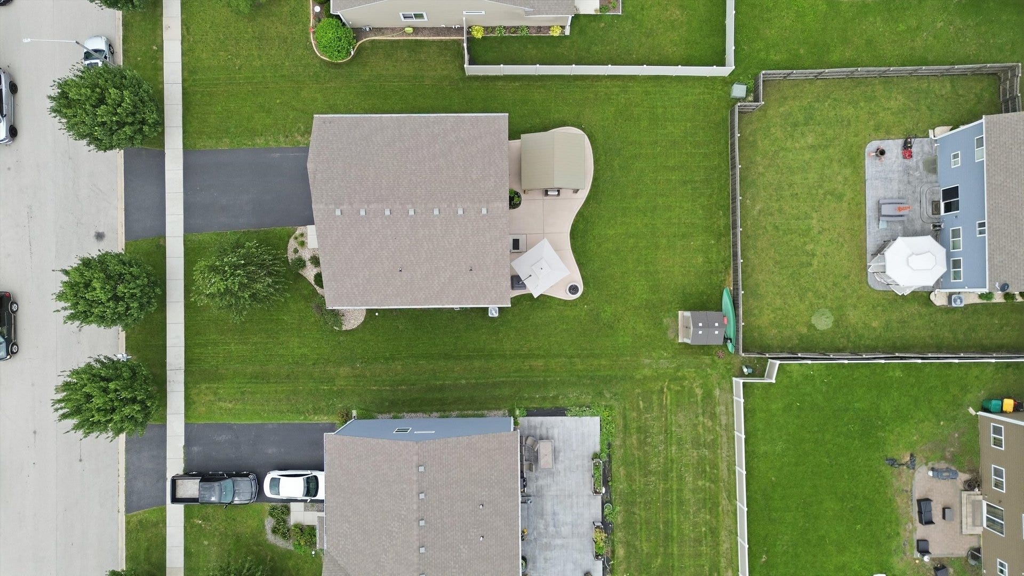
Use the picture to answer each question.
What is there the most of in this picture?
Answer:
grass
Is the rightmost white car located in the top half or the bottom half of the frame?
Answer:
bottom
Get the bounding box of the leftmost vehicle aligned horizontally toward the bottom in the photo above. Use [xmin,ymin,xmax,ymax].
[170,470,260,509]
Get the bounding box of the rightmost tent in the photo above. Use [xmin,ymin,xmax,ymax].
[865,235,947,291]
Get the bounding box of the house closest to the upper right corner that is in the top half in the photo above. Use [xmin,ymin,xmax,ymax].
[930,112,1024,297]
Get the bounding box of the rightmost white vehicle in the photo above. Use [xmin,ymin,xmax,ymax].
[263,468,323,503]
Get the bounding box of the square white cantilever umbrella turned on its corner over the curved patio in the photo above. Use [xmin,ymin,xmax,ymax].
[511,239,570,298]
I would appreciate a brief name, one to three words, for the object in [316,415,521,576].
house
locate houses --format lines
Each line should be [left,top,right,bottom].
[305,113,509,309]
[930,112,1024,297]
[330,0,575,31]
[316,415,521,576]
[975,412,1024,576]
